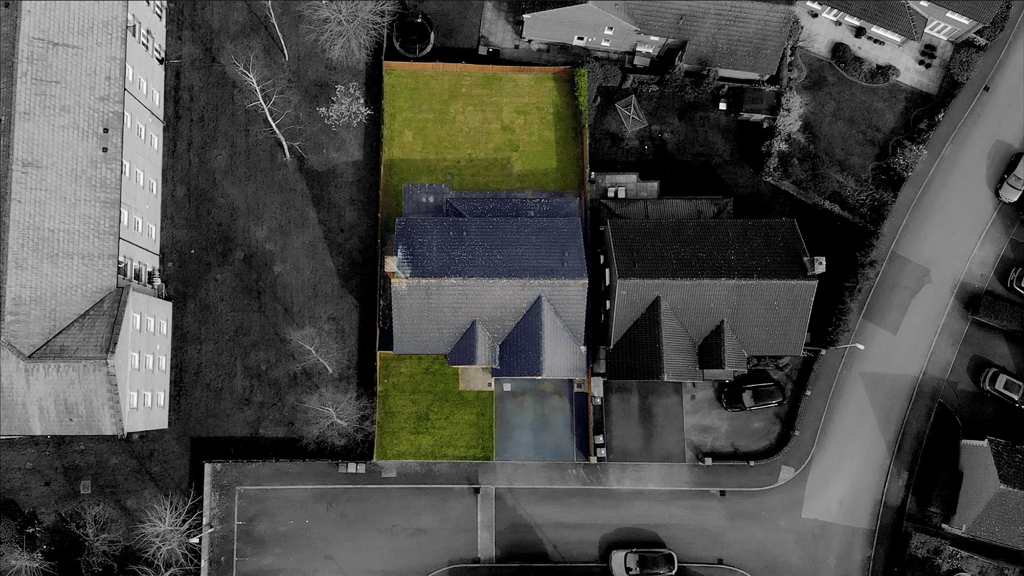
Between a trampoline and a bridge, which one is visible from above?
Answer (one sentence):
I can see a trampoline in this picture.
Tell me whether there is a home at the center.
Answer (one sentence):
Yes, at the center there is a home.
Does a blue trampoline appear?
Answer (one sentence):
No, the scene contains no blue trampoline.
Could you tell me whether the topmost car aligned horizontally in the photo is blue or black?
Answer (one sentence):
The color of the topmost car aligned horizontally is black.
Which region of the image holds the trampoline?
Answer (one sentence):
You can find the trampoline in the top area of the picture.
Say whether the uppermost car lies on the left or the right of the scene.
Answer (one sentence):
The uppermost car appears in the right half of the scene.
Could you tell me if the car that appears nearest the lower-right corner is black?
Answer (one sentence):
Yes, the car that appears nearest the lower-right corner is indeed black.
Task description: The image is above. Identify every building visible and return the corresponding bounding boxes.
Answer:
[384,197,591,379]
[0,0,172,437]
[519,0,795,80]
[730,89,779,127]
[935,436,1024,541]
[598,198,827,381]
[798,0,1009,49]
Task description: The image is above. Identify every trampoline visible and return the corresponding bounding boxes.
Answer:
[392,12,431,60]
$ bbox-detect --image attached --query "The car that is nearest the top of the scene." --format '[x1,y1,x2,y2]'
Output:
[999,148,1024,202]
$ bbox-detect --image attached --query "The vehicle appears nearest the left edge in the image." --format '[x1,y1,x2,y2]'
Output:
[609,546,677,576]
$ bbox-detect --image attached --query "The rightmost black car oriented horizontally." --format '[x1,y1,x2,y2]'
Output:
[720,379,786,413]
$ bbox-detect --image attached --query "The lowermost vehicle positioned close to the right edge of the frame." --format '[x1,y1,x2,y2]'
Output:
[976,364,1024,411]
